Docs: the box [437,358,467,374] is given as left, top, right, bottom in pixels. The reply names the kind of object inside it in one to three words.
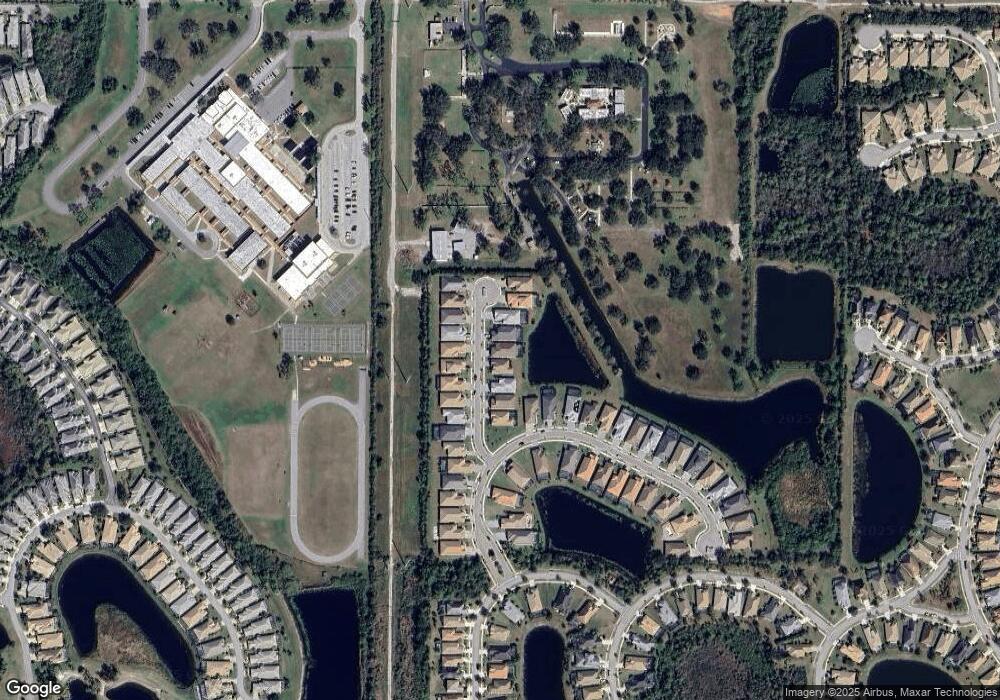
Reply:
house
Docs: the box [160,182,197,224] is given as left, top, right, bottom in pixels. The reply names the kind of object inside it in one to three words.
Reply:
building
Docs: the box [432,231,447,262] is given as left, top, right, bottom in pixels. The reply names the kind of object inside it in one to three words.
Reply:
shed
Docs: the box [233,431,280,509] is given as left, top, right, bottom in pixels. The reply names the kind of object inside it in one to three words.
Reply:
sports field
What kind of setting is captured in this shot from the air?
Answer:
residential area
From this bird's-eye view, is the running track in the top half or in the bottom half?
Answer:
bottom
